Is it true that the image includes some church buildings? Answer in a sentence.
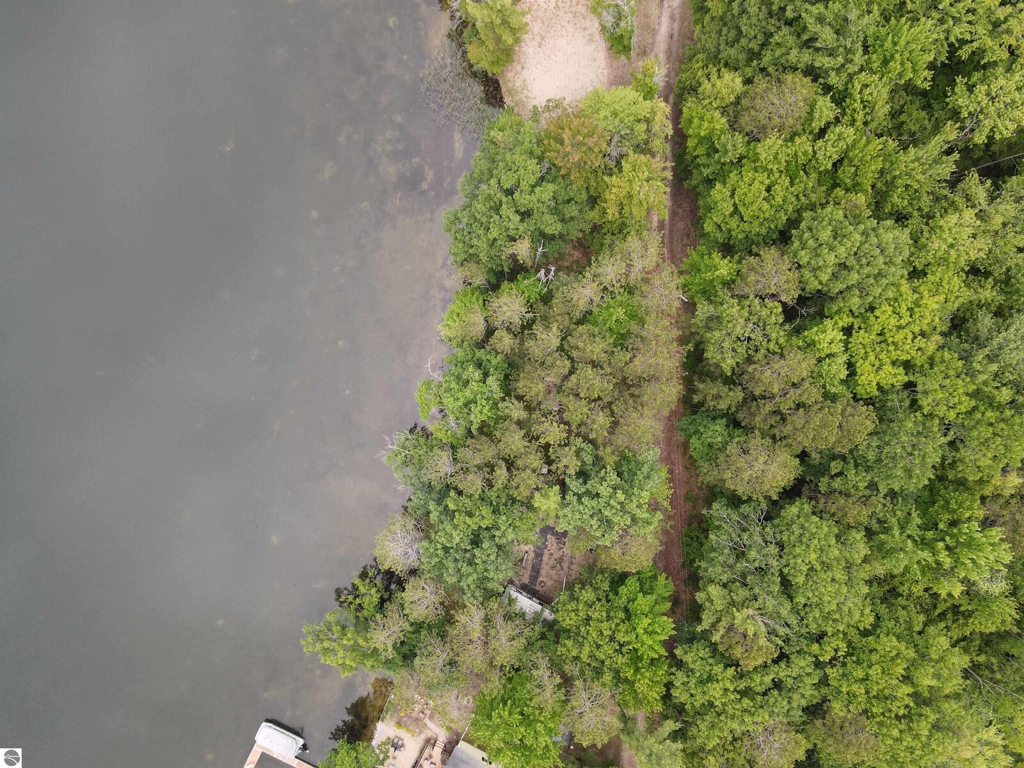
No, the photo shows no church building.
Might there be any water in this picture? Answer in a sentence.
Yes, some water is visible.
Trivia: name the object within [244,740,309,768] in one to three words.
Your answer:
pier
